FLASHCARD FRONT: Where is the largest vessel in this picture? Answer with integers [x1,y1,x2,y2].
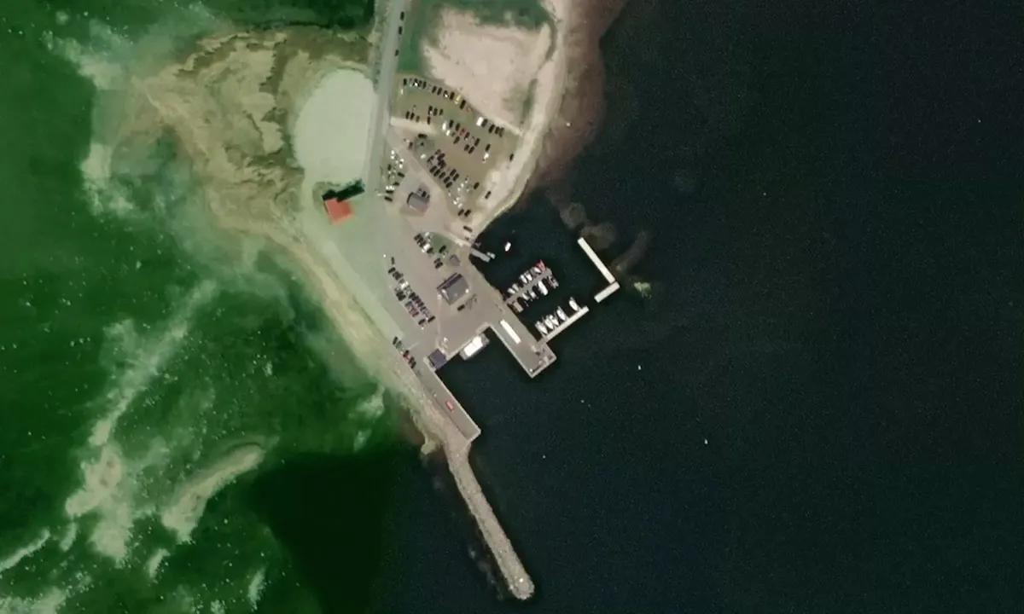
[459,334,489,360]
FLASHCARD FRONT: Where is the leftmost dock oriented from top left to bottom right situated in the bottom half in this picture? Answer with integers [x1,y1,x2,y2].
[419,362,482,444]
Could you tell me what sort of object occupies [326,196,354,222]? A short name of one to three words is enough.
house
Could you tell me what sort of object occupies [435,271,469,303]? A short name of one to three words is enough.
building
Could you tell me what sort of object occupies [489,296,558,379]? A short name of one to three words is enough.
pier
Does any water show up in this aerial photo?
Yes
